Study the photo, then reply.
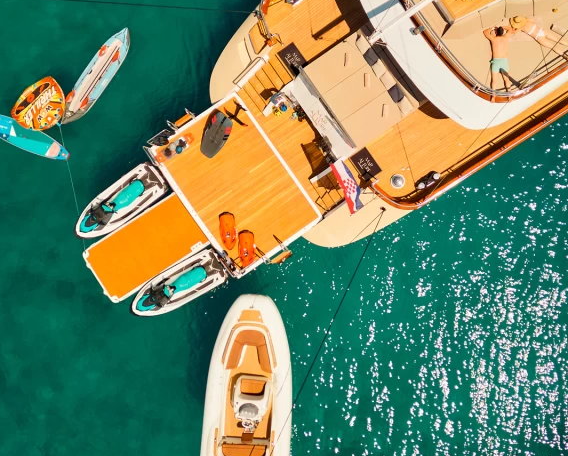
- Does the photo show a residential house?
No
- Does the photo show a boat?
Yes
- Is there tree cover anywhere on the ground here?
No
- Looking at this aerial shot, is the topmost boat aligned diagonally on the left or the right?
left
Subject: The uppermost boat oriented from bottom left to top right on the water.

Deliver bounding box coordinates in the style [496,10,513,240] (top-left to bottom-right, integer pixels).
[66,28,130,124]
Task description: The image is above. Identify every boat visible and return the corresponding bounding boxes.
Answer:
[83,159,170,232]
[138,0,568,279]
[197,295,292,456]
[138,245,229,311]
[66,28,130,124]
